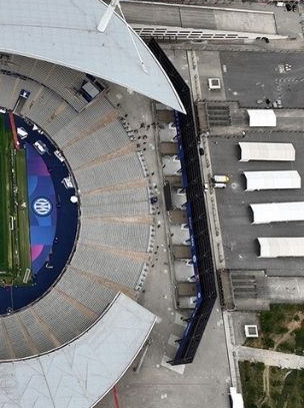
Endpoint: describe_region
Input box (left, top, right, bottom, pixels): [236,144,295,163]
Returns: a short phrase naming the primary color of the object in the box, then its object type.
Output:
white tent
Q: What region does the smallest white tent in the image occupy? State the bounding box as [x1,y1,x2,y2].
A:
[244,111,277,128]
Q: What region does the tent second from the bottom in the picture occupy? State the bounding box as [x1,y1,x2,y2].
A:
[247,203,304,225]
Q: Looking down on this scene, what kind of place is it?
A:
sports ground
